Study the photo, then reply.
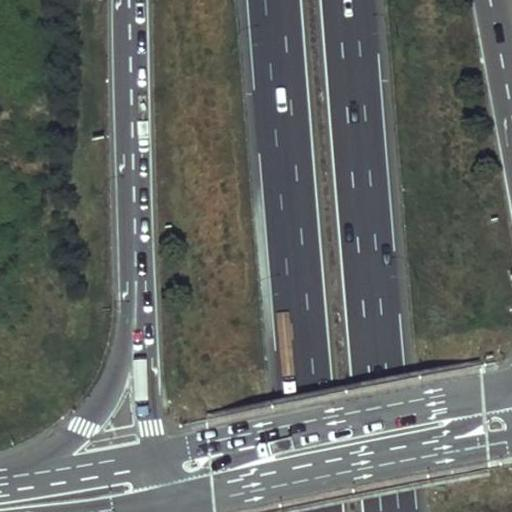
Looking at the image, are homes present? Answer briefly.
No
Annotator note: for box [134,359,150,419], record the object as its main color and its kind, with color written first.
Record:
white vehicle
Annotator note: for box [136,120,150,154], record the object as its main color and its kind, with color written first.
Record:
white vehicle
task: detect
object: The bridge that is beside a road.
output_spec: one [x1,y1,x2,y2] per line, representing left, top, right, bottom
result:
[204,360,489,512]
